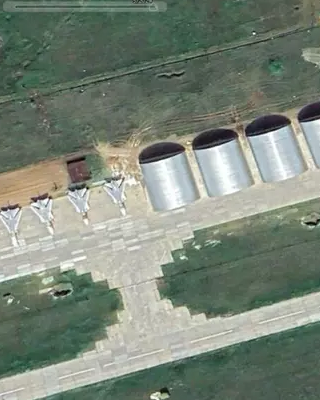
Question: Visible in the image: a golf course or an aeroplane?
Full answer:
I can see an aeroplane in this picture.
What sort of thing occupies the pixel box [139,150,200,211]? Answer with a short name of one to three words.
hangar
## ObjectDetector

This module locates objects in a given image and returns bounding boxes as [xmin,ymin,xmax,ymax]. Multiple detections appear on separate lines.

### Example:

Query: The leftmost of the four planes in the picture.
[0,207,21,248]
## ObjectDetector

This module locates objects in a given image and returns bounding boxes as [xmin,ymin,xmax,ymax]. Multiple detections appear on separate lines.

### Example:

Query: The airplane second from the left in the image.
[32,195,54,236]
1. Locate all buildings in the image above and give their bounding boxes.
[246,123,309,183]
[193,136,254,198]
[298,116,320,169]
[66,157,92,184]
[139,150,200,211]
